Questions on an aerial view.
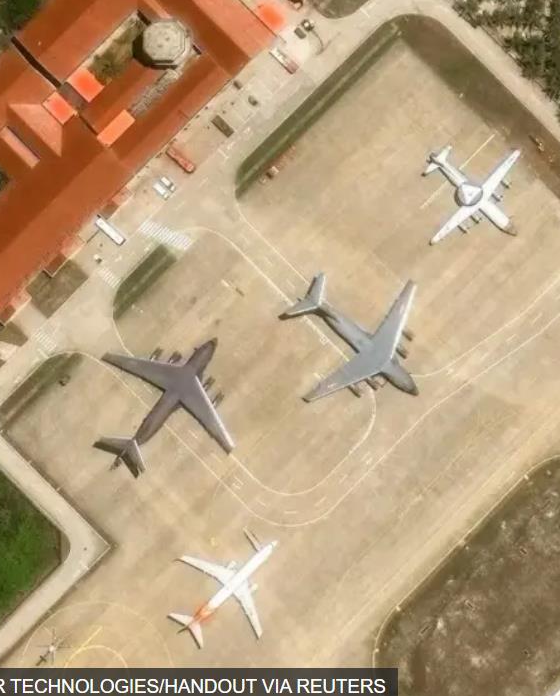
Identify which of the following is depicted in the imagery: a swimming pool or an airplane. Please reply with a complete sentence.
It is an airplane that can be seen here.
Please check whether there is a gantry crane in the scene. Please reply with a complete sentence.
No, the scene contains no gantry crane.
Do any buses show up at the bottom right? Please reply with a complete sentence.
No, the scene shows no bus at the bottom right.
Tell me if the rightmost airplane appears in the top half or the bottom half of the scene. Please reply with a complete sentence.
The rightmost airplane sits in the top half of the picture.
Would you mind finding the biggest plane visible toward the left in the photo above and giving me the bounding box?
[95,338,229,479]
